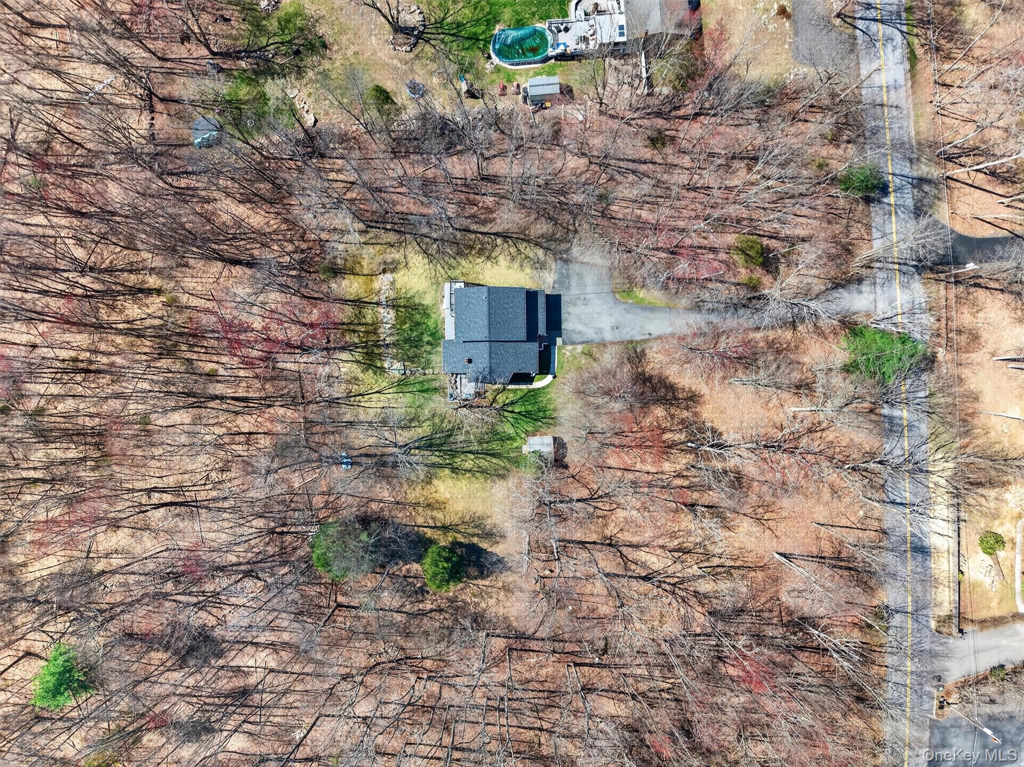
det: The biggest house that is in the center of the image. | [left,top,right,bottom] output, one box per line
[441,280,551,402]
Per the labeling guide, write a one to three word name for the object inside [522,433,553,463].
shed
